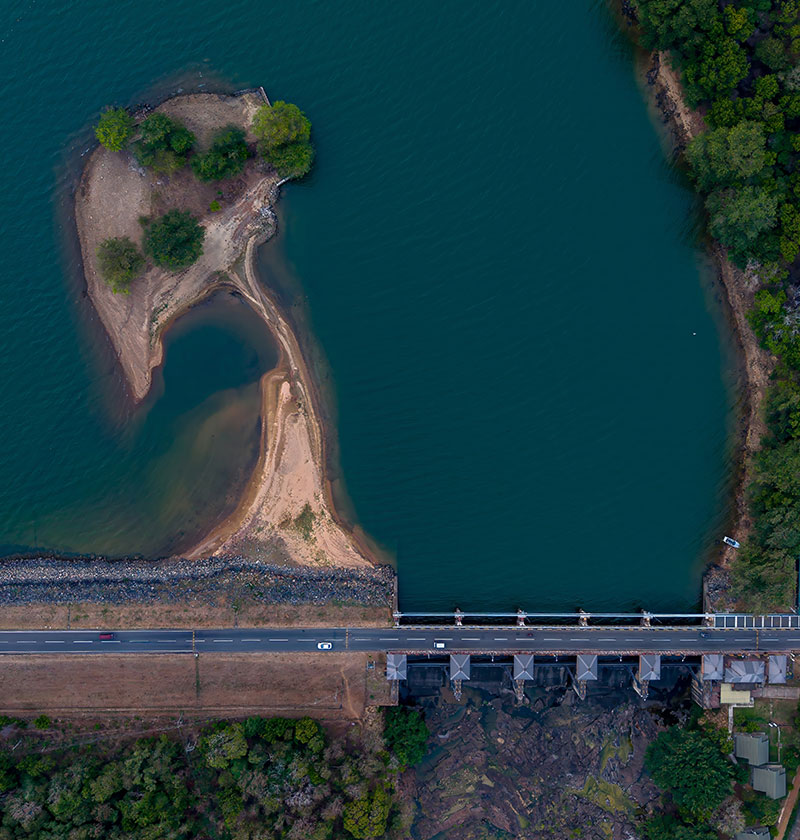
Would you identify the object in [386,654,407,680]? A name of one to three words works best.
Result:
building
